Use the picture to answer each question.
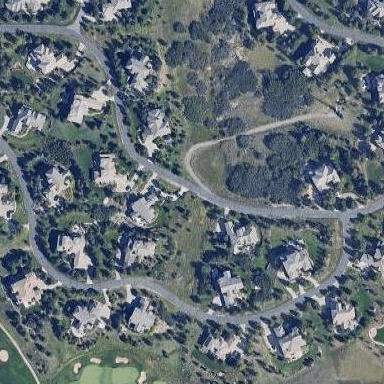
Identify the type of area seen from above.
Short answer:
residential area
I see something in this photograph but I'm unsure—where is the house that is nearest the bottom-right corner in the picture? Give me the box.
[331,302,360,332]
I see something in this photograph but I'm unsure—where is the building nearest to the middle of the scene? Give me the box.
[127,189,162,223]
